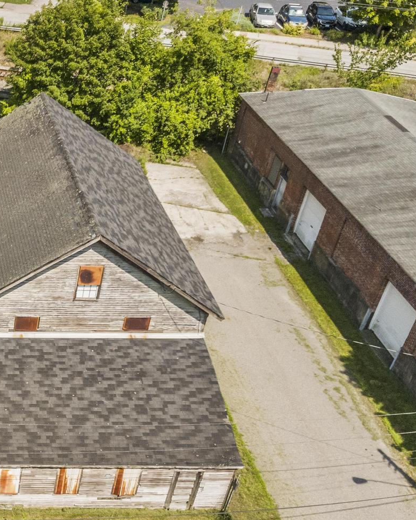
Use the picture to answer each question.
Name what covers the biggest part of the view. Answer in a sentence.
The largest share of the image is taken up by buildings.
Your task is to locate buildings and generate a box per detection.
[0,89,243,509]
[222,63,416,407]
